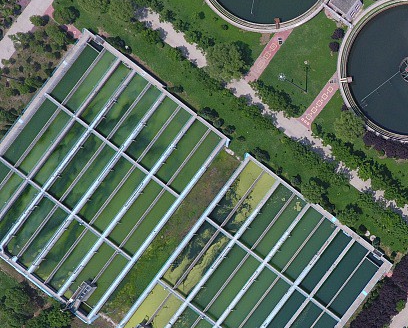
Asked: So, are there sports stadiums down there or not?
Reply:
No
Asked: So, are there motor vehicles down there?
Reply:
No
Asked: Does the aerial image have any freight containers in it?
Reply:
No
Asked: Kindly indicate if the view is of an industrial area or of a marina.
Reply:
industrial area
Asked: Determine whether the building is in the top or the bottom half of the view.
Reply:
top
